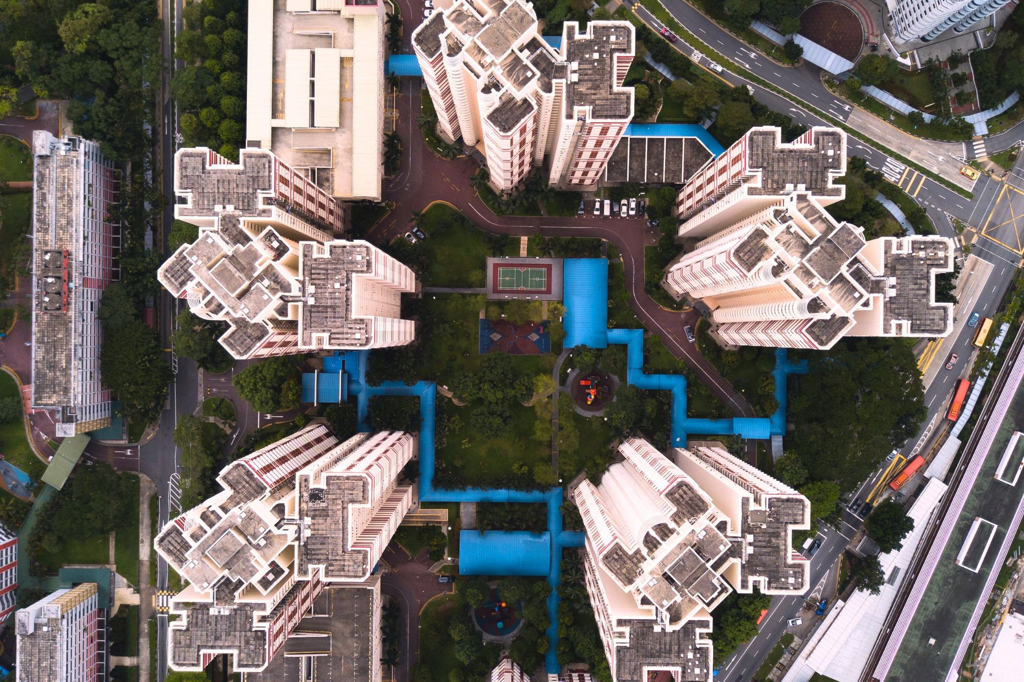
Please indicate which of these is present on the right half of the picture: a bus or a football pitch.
bus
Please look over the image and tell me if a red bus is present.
Yes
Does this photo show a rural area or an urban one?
urban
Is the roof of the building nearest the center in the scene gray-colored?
No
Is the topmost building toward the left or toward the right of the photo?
right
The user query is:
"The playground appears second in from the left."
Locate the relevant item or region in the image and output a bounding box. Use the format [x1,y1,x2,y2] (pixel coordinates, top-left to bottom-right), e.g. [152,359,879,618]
[471,586,526,641]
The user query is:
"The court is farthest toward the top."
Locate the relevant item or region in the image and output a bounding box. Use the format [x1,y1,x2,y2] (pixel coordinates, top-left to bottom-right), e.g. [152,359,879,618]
[486,256,563,300]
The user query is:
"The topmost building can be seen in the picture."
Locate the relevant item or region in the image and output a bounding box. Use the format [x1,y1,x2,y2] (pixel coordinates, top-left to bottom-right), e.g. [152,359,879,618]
[882,0,1022,96]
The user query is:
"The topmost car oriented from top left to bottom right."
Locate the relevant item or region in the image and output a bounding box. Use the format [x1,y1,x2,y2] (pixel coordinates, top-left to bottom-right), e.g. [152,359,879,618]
[660,26,677,42]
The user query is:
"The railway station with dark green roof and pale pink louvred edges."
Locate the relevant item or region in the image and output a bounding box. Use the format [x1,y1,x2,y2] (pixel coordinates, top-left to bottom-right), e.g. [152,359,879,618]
[870,339,1024,682]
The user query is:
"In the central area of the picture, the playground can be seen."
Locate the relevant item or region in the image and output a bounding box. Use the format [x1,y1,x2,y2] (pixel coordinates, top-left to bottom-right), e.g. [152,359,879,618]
[564,363,620,419]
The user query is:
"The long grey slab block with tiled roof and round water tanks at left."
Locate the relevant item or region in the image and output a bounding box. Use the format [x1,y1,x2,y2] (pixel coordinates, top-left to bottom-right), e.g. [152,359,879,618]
[33,130,123,436]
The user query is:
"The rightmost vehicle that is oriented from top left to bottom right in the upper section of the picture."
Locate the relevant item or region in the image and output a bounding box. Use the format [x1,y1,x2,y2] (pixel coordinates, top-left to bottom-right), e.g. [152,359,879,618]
[960,166,977,180]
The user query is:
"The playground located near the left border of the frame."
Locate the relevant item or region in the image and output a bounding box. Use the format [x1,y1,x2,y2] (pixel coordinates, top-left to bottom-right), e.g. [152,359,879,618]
[0,460,36,501]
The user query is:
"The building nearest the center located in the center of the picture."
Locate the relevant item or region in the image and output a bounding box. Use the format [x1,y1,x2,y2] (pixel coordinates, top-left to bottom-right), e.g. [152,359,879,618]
[563,258,608,348]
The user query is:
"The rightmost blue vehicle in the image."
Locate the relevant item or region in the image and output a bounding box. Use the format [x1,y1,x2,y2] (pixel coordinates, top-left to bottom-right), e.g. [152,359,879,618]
[967,311,980,328]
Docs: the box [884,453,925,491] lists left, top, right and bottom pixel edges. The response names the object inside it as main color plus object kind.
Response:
red bus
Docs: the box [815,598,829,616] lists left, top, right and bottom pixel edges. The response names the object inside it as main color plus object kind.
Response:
blue car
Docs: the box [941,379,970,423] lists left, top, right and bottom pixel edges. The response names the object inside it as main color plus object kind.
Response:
red bus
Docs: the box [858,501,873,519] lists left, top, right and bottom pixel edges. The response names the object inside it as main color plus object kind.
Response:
black car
